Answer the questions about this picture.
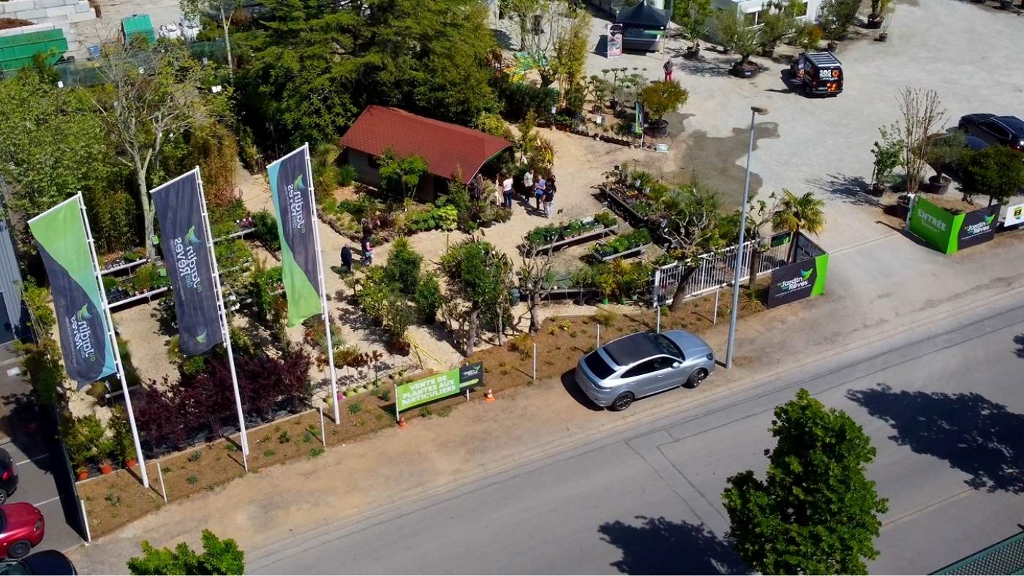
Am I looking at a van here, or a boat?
van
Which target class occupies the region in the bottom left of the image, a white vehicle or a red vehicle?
red vehicle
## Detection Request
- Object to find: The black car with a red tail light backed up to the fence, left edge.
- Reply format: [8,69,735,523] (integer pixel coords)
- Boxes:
[0,447,25,507]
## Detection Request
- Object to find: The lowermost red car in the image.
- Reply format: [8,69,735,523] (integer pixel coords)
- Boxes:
[0,508,42,555]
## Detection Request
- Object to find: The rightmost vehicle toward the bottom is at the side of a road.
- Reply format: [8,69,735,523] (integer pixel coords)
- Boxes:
[575,333,711,410]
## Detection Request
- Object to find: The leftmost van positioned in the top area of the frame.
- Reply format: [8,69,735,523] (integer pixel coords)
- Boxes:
[790,45,845,91]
